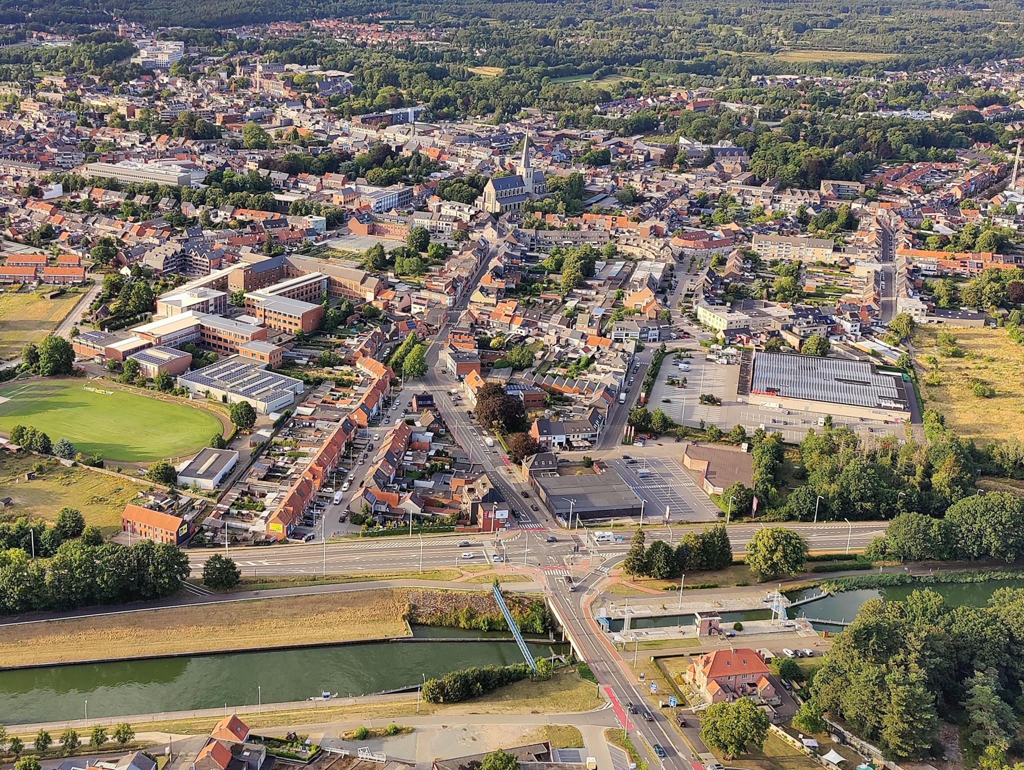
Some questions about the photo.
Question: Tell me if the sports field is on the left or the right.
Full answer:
It is on the left.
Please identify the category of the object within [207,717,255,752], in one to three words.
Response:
house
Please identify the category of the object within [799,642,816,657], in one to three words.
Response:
vehicle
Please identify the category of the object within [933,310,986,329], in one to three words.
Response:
building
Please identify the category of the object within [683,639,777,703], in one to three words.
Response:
house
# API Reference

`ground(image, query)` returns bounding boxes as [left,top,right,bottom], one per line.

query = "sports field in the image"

[0,379,223,461]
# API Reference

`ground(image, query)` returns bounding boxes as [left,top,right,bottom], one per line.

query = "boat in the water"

[308,688,340,701]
